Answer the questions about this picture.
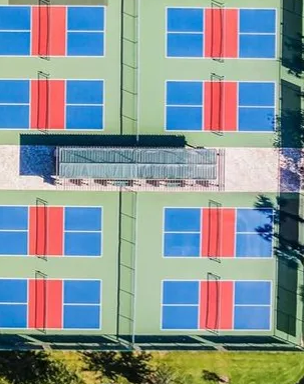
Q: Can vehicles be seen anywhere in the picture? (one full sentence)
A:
No, the scene contains no vehicle.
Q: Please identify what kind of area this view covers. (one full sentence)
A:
The picture captures a sports ground.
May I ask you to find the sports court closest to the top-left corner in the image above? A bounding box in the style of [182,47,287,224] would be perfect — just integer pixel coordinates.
[0,5,106,58]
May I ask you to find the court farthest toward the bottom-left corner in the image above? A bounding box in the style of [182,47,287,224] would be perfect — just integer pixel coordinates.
[0,278,102,330]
